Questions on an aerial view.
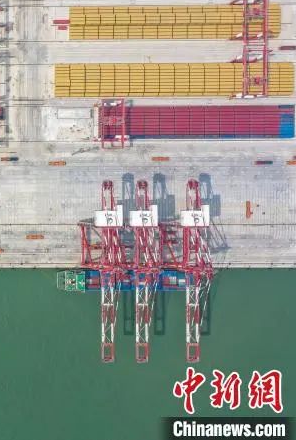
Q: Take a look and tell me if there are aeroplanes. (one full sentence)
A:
No, no aeroplane can be seen from above.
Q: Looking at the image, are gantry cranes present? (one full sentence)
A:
Yes, I can see a gantry crane in this picture.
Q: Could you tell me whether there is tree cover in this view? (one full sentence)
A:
No, no tree cover is visible.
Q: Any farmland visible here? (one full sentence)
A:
No, farmland can't be seen anywhere here.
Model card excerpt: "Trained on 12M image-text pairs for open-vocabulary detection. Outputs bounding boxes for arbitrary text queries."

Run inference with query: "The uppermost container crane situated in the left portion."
[92,97,125,148]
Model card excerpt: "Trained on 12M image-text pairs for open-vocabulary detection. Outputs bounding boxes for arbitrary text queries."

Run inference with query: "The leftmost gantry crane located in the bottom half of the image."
[79,177,124,361]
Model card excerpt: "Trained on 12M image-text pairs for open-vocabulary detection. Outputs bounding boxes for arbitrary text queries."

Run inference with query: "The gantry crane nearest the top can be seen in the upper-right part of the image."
[228,0,268,43]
